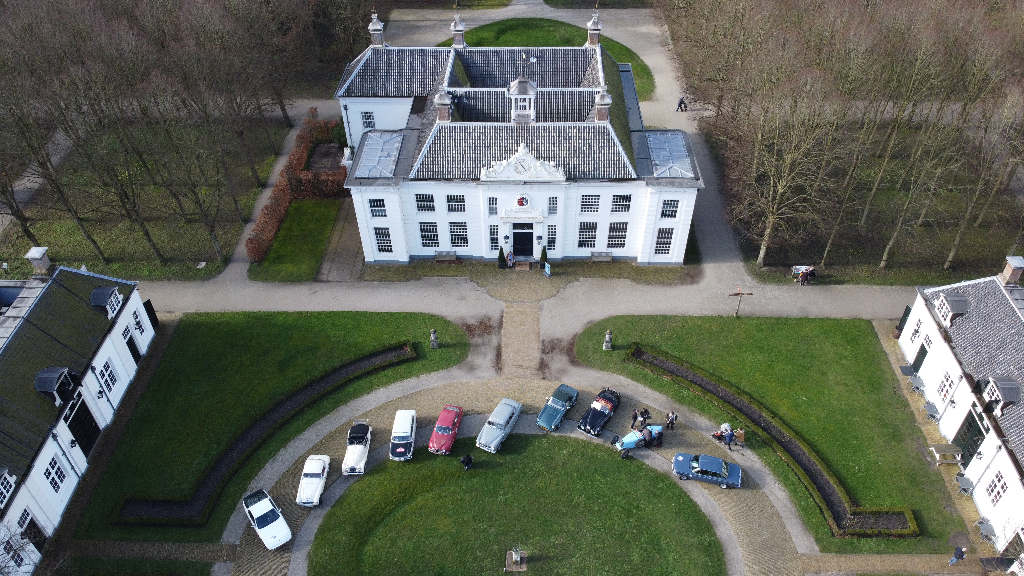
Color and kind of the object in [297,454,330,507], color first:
white car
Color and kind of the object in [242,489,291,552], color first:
white car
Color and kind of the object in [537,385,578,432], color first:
blue car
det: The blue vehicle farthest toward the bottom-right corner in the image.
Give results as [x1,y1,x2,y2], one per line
[670,454,741,489]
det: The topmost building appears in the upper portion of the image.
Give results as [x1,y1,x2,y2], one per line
[334,5,704,266]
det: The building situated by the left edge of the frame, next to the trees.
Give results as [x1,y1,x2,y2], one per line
[0,247,158,576]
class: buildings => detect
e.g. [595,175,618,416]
[334,5,704,266]
[0,247,158,576]
[895,252,1024,576]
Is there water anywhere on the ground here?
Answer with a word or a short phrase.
No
